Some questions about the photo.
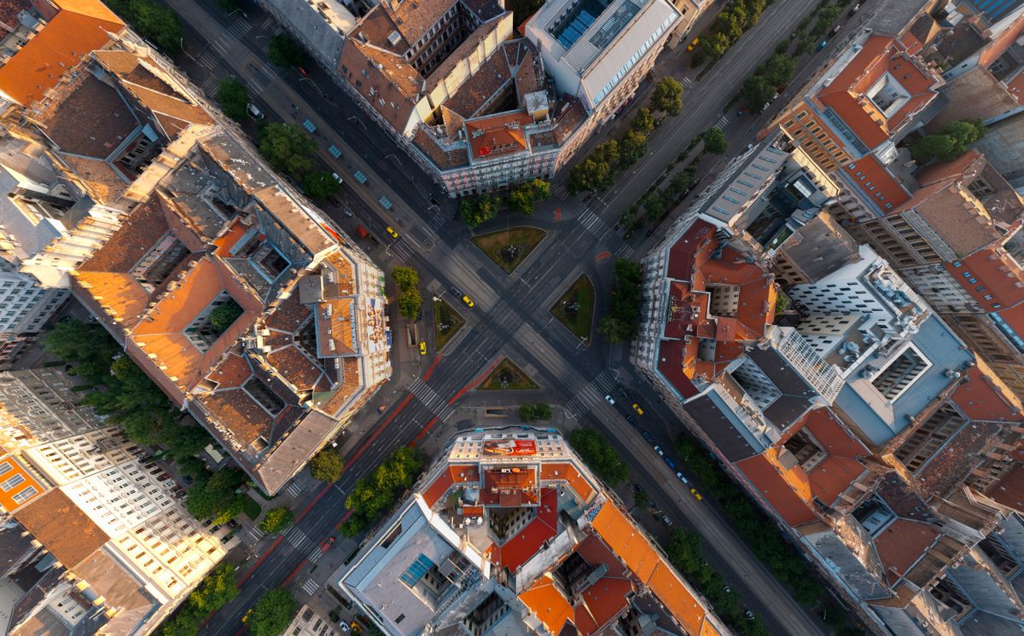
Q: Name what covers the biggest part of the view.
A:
buildings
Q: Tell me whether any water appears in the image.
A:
No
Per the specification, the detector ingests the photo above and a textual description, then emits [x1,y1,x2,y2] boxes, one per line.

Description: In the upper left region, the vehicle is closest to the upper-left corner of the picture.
[246,102,263,118]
